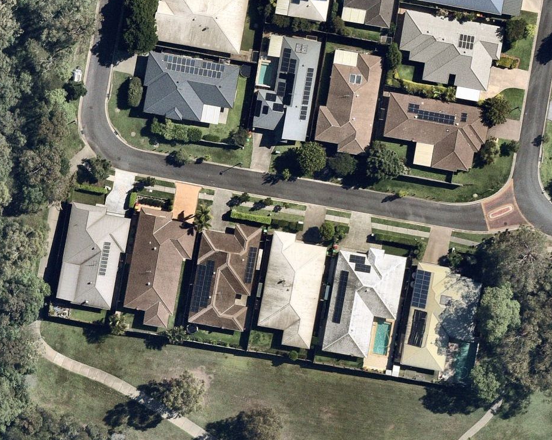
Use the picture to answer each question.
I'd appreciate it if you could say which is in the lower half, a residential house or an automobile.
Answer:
residential house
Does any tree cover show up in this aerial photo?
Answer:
Yes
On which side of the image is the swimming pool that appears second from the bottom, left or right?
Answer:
right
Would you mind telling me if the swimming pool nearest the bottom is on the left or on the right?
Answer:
right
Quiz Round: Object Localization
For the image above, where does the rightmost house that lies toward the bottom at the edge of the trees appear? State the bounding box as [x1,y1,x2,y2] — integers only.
[401,262,484,372]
